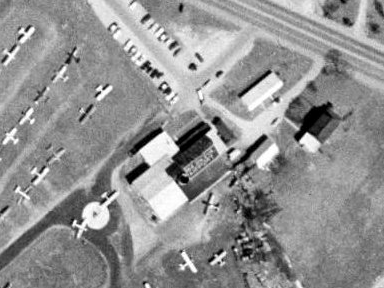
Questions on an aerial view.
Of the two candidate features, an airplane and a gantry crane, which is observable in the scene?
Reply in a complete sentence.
I can see an airplane in this picture.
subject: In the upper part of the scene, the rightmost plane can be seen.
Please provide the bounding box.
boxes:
[96,84,113,101]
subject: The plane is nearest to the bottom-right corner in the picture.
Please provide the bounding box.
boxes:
[210,252,227,268]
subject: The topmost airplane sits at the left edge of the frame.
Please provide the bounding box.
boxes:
[18,26,35,43]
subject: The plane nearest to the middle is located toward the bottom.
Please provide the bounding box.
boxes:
[204,195,218,214]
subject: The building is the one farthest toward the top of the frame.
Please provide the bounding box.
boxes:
[242,73,283,110]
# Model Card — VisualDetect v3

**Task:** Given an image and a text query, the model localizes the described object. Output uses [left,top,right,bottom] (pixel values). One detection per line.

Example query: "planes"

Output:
[15,186,32,205]
[34,86,50,103]
[18,109,35,125]
[18,26,35,43]
[96,84,113,101]
[32,168,49,185]
[52,66,69,83]
[103,190,120,207]
[3,129,18,145]
[204,195,218,214]
[48,147,65,164]
[210,252,227,268]
[179,253,197,272]
[5,45,21,62]
[65,47,80,65]
[80,107,96,123]
[73,219,88,238]
[0,207,11,221]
